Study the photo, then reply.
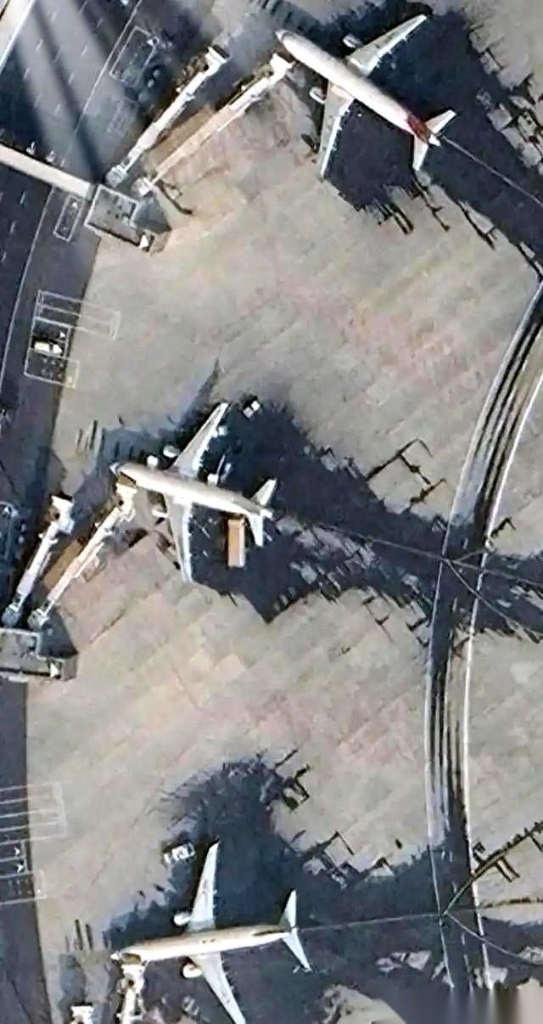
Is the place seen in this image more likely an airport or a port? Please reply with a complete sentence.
This image shows an airport.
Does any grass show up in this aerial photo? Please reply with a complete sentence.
No, there's no grass in this view.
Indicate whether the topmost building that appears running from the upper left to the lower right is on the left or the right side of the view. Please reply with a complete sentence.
It is on the left.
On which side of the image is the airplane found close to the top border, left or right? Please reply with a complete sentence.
It is on the right.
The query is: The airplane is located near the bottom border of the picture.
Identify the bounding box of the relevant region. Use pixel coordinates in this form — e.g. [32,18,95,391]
[112,842,309,1024]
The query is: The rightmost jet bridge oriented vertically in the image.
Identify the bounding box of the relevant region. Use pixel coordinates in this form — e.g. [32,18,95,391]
[113,955,143,1024]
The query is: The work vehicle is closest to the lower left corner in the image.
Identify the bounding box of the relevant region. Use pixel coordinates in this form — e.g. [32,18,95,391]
[164,844,195,863]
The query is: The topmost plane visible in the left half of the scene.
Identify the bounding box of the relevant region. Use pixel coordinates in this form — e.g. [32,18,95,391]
[112,405,277,582]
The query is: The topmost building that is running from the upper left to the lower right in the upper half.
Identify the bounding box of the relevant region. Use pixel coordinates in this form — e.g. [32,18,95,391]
[84,184,170,253]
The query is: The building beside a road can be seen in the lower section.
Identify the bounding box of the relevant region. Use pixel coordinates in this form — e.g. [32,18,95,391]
[0,629,78,681]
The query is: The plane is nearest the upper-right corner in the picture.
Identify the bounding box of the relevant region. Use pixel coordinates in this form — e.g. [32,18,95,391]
[277,15,458,179]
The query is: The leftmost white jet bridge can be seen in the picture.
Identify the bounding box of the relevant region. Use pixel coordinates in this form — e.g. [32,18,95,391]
[3,489,75,626]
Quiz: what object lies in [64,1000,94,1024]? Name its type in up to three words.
jet bridge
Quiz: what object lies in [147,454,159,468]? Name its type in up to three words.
vehicle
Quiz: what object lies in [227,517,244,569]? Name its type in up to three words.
vehicle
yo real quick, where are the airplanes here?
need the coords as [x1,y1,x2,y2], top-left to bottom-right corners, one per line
[112,405,277,582]
[277,15,458,179]
[112,842,309,1024]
